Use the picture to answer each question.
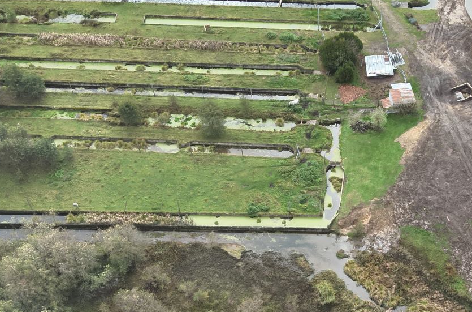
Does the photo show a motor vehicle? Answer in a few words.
No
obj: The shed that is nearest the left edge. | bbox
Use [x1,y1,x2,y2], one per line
[365,55,393,82]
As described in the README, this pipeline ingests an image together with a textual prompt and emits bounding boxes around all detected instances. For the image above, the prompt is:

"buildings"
[382,82,415,115]
[365,55,393,82]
